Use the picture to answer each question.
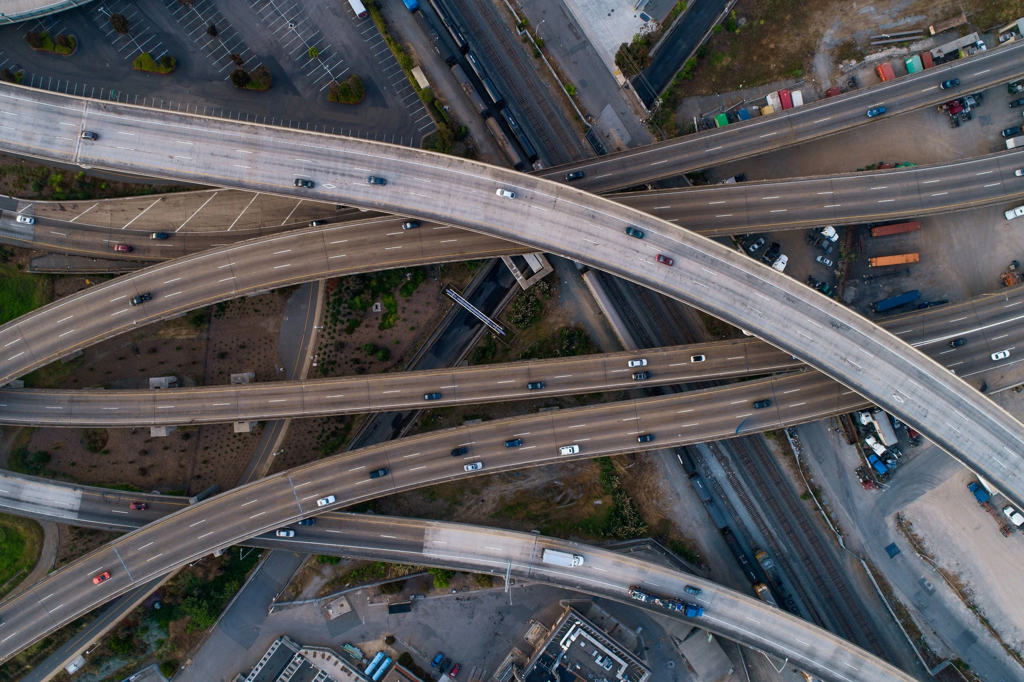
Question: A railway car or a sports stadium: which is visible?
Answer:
railway car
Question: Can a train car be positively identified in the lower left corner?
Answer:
No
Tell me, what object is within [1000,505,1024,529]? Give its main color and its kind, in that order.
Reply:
white truck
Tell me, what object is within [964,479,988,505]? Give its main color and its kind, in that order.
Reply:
blue truck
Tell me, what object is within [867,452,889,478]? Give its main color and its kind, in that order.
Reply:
blue truck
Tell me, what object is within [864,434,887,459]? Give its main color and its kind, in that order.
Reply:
white truck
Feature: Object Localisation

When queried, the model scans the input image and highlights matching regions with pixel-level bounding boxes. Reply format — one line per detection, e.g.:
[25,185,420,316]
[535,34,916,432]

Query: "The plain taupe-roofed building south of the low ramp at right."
[674,623,734,680]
